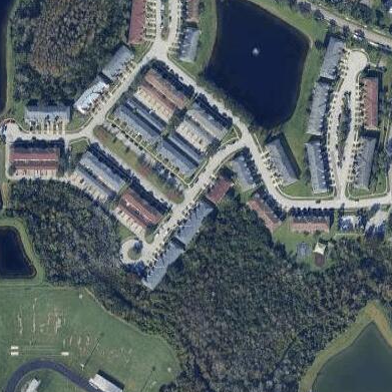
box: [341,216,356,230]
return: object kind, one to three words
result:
swimming pool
